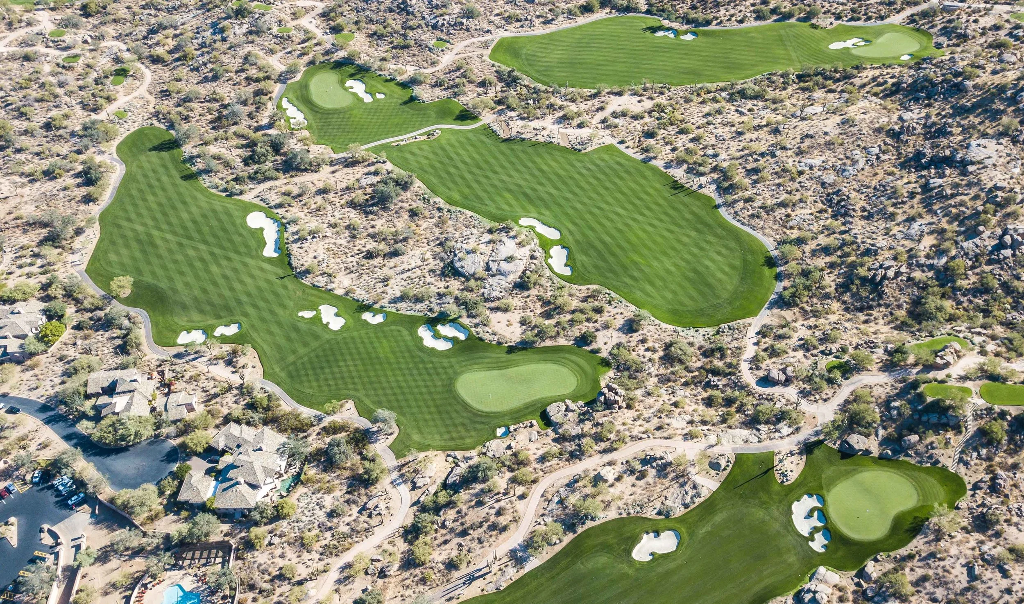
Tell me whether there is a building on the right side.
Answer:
No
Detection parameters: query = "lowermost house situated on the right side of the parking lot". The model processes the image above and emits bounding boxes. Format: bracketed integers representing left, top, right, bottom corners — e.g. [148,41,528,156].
[178,421,288,514]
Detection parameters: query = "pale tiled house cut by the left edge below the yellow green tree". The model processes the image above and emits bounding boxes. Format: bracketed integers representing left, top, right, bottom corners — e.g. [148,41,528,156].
[0,301,48,358]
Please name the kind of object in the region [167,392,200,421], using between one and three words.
house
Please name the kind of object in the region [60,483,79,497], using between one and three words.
car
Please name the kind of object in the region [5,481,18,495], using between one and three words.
vehicle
